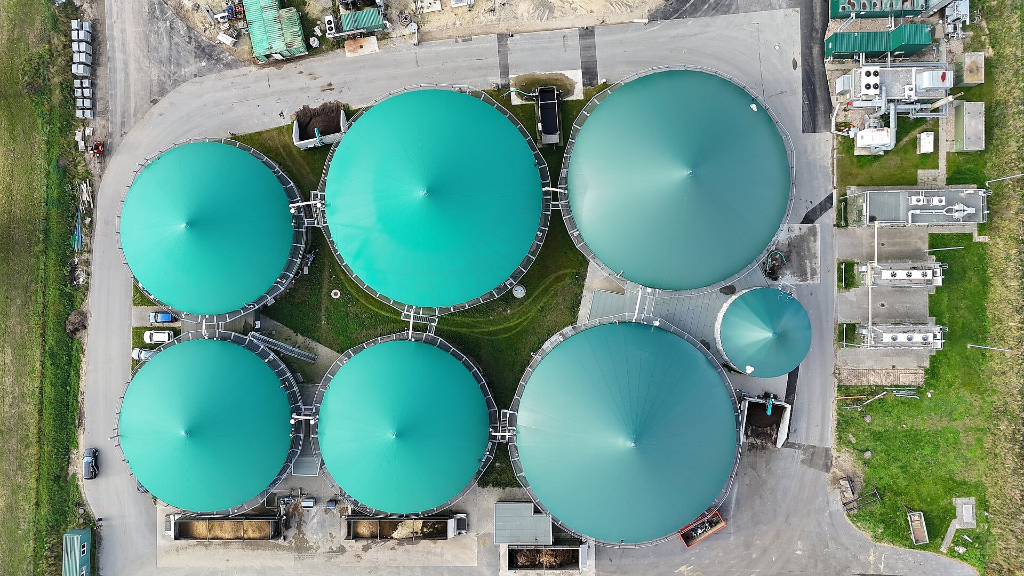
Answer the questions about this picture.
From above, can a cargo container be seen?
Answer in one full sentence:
Yes, a cargo container can be made out from above.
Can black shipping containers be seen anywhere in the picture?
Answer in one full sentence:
Yes, the image includes a black shipping container.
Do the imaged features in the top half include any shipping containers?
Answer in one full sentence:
Yes, a shipping container can be seen in the top half.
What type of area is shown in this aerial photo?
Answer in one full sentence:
This image shows an industrial area.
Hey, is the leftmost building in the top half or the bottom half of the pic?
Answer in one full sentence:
The leftmost building sits in the bottom half of the picture.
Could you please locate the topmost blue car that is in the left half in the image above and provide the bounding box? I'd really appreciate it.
[151,310,177,324]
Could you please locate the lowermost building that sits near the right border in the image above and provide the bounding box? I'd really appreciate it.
[952,102,985,153]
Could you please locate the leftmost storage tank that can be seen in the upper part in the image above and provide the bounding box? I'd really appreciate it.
[117,135,311,323]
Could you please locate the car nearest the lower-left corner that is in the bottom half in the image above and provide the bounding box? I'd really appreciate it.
[82,447,101,479]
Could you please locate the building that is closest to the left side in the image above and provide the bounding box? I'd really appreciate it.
[62,529,92,576]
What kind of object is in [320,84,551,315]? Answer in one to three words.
storage tank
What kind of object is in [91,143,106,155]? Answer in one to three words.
vehicle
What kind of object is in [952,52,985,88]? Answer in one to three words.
building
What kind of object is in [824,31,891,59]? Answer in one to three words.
building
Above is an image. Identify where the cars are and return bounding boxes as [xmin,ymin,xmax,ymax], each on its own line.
[151,310,177,324]
[144,330,175,344]
[130,347,155,361]
[82,447,101,479]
